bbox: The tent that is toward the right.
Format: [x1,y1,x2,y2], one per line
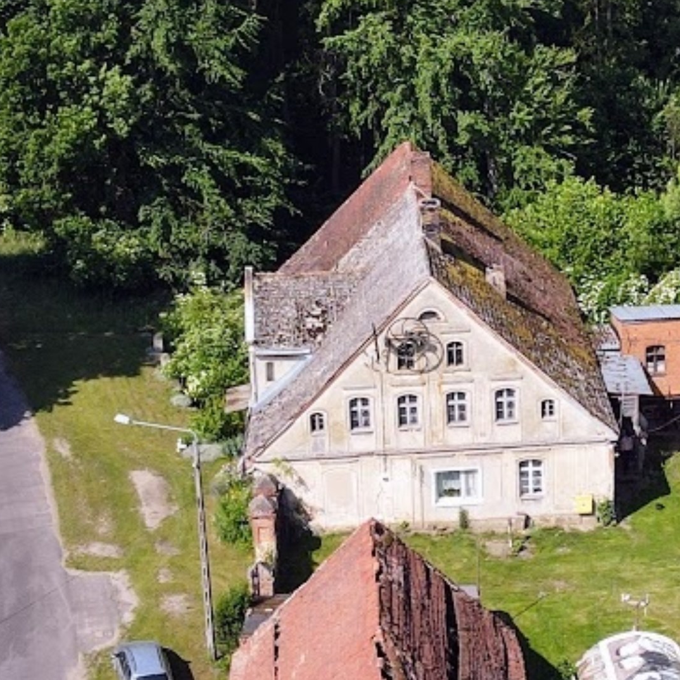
[578,636,680,680]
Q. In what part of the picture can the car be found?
bottom left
